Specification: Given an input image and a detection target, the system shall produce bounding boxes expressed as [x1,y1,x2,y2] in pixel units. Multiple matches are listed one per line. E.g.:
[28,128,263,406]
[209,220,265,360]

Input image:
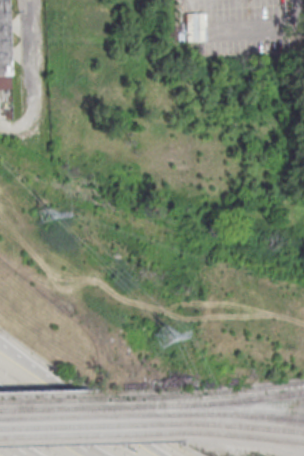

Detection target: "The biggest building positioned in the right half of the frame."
[185,14,206,44]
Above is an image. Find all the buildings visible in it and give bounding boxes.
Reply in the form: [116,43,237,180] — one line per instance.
[185,14,206,44]
[0,0,14,90]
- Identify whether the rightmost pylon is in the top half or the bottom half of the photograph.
bottom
